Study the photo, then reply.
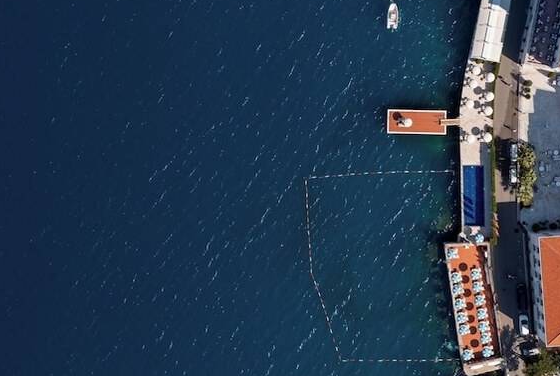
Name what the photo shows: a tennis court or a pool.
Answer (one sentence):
Visible in the photo is a pool.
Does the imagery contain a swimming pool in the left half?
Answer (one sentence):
No, in the left half there is no swimming pool.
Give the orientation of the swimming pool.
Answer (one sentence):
The swimming pool is laid out from top to bottom.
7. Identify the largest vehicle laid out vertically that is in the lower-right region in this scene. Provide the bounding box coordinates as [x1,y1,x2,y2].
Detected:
[515,282,528,310]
